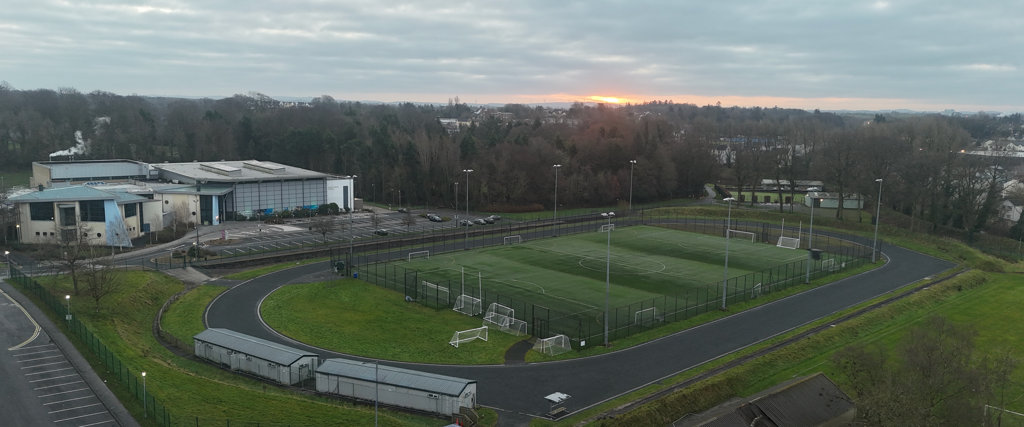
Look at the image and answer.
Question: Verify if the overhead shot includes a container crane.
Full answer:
No, there isn't any container crane down there.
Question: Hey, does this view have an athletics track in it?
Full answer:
Yes, I can see an athletics track in this picture.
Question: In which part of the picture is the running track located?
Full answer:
Look in the bottom portion of the view to spot the running track.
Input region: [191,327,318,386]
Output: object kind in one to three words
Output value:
shed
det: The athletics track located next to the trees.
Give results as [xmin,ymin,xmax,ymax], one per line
[206,219,956,420]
